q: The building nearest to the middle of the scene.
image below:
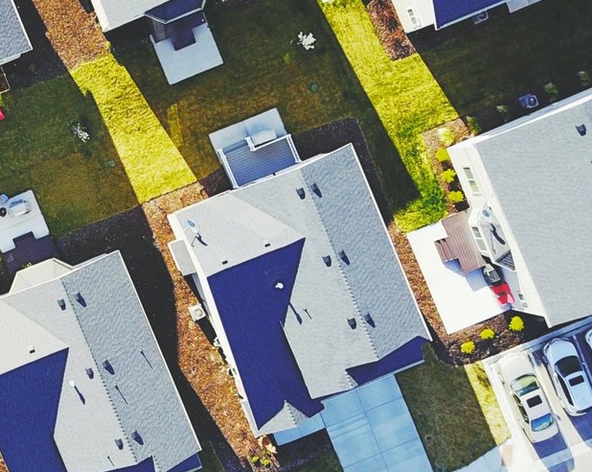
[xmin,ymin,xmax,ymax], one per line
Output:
[164,140,433,432]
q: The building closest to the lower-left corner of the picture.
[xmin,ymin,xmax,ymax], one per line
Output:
[0,248,203,472]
